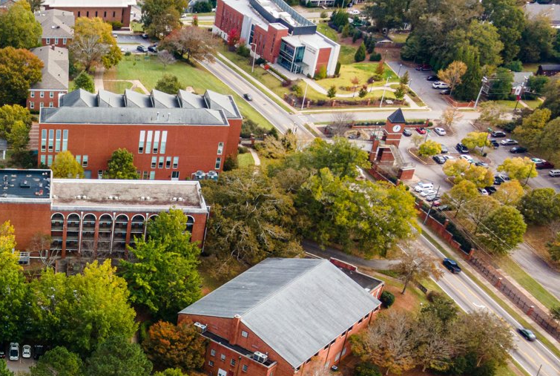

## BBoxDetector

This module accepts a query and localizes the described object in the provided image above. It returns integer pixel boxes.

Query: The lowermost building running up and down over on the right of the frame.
[381,104,409,166]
